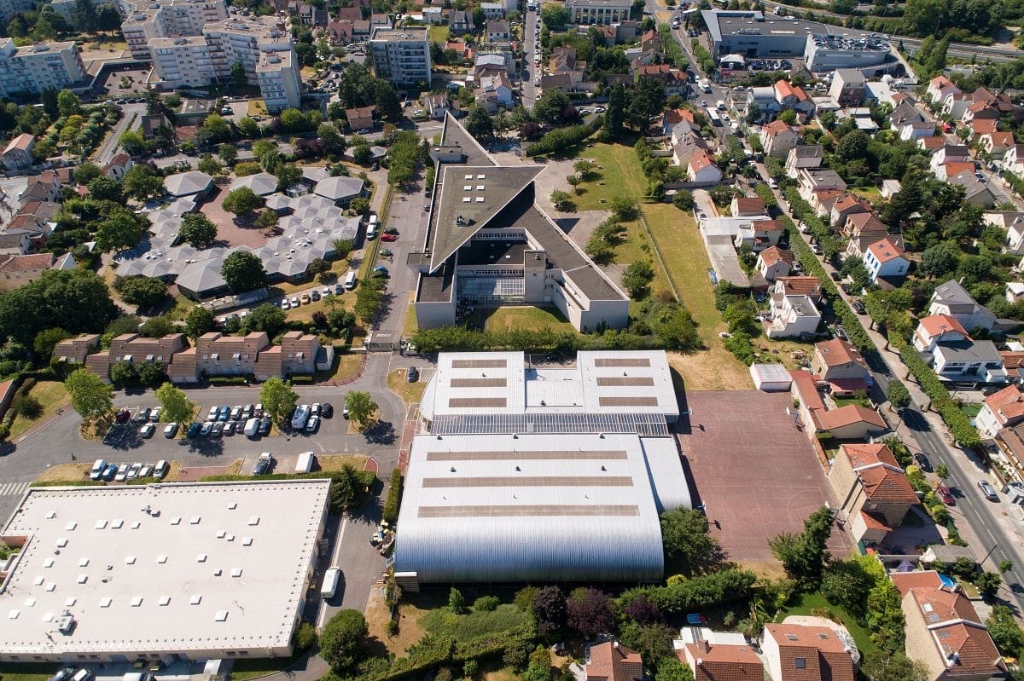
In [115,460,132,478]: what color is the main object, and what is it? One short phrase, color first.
white car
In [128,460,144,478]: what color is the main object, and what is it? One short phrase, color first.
white car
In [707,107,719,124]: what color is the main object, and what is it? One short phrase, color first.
white vehicle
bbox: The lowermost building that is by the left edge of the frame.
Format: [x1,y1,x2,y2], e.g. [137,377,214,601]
[0,479,335,681]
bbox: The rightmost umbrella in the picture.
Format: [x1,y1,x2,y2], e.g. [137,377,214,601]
[893,557,918,574]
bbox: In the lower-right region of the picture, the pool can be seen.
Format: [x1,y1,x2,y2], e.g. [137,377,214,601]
[930,569,965,589]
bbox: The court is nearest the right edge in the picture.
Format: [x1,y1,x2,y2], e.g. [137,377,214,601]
[680,390,854,561]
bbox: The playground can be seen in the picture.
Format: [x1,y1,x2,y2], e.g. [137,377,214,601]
[181,186,281,248]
